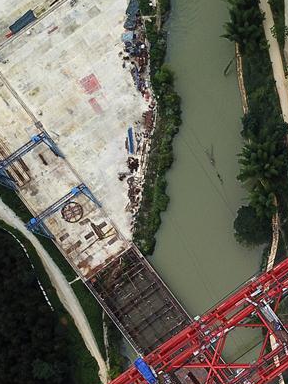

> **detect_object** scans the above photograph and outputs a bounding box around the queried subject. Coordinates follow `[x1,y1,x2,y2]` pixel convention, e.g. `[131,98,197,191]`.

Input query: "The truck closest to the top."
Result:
[8,9,34,33]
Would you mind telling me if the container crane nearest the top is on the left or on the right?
left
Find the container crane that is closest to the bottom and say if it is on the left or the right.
left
